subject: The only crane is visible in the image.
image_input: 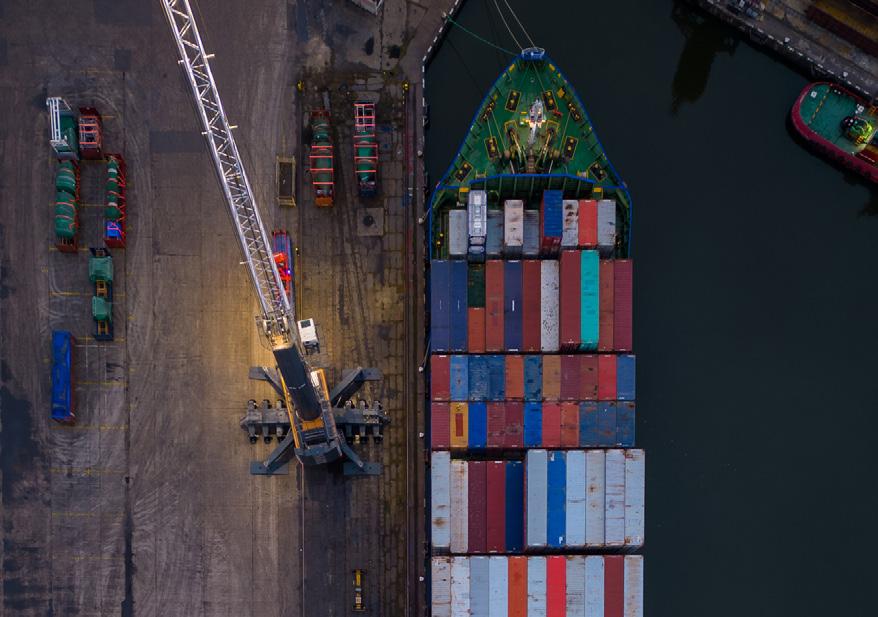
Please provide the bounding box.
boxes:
[156,0,388,475]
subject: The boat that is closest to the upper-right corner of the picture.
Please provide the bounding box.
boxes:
[791,78,878,190]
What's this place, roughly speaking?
port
